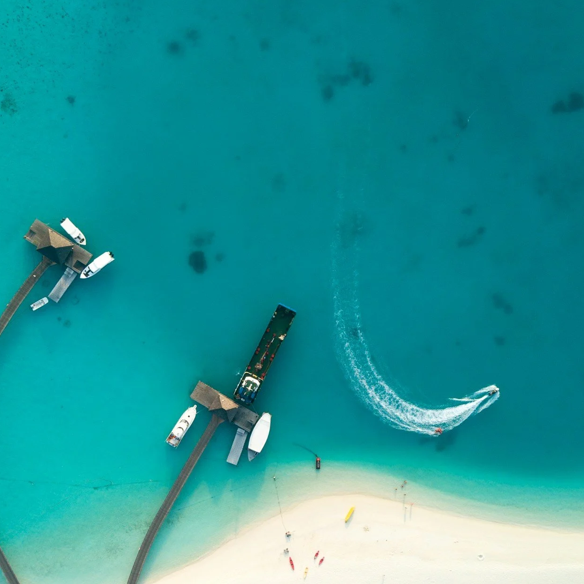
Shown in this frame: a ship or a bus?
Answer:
ship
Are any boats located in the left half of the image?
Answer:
Yes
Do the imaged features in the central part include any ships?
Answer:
Yes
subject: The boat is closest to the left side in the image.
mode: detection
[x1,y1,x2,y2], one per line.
[30,297,49,311]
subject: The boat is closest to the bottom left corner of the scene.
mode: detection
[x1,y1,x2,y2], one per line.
[163,404,196,452]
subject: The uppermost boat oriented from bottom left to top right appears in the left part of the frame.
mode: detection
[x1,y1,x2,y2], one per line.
[80,251,115,278]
